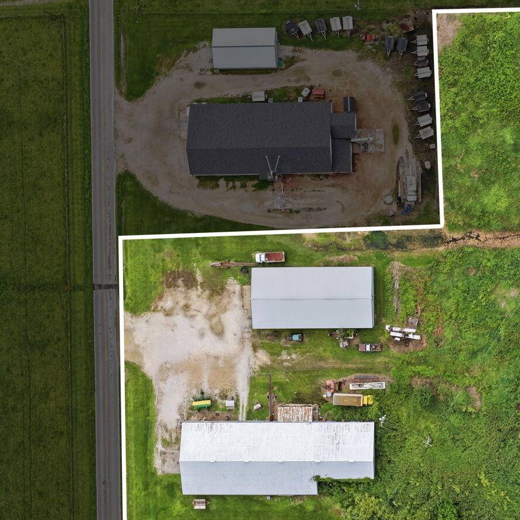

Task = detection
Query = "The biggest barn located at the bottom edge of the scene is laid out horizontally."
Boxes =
[178,420,374,496]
